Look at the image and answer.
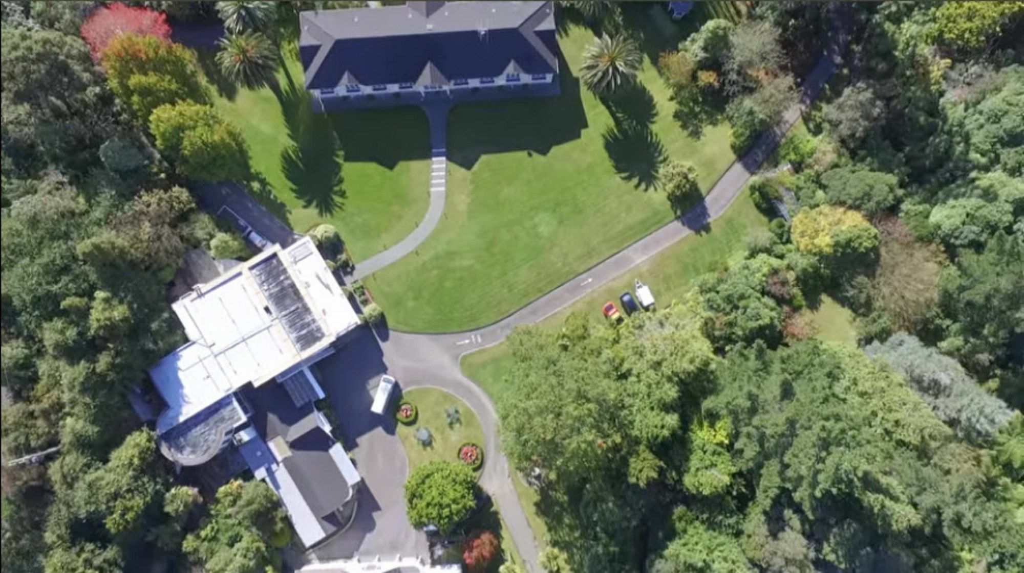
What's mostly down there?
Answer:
trees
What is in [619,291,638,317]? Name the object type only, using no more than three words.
car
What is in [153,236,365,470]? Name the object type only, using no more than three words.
building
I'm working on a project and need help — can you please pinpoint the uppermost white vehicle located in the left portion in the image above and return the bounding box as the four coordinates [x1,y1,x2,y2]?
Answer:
[368,374,394,414]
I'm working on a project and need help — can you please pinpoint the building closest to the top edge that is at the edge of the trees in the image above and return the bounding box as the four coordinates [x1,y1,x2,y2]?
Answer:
[299,0,556,102]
